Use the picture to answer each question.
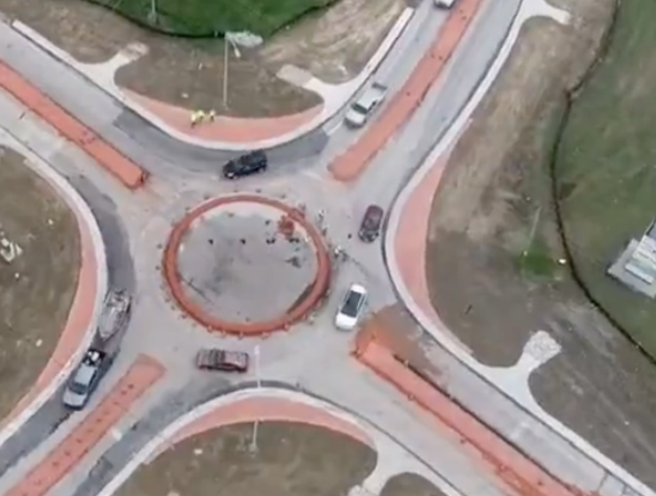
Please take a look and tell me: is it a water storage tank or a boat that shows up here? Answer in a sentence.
It is a boat that can be seen here.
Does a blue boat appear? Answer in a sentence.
No, the frame has no blue boat in it.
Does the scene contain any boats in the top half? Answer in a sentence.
No, in the top half there is no boat.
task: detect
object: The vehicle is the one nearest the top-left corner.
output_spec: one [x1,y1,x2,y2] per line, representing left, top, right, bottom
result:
[222,148,268,181]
